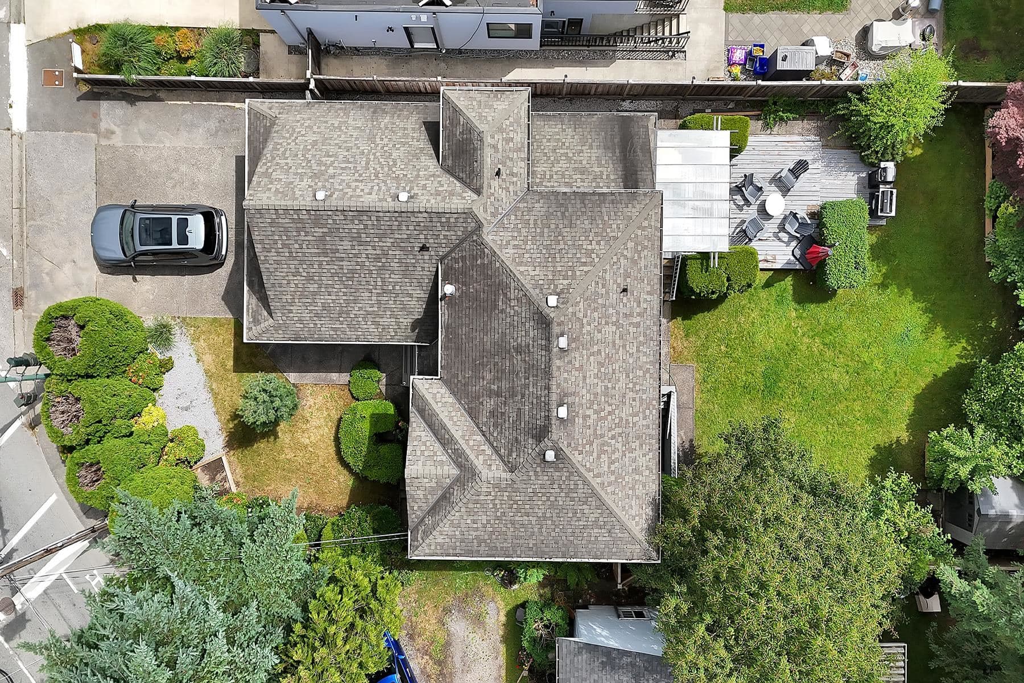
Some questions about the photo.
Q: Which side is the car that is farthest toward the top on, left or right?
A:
left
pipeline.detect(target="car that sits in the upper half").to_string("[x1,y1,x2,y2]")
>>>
[90,199,233,269]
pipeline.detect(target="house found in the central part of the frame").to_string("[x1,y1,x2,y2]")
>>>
[241,83,667,565]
